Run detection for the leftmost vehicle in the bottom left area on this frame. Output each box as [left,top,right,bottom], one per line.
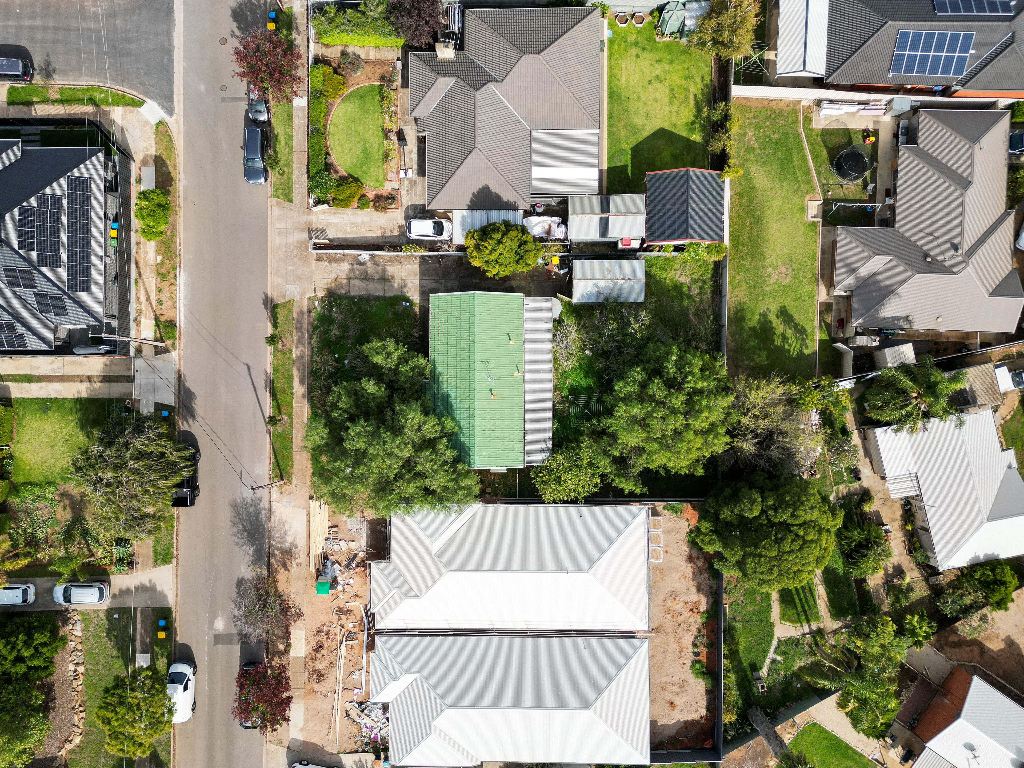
[0,579,34,607]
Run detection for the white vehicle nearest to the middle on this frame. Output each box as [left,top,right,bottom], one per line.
[404,213,452,242]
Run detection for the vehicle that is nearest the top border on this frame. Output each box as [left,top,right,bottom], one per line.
[0,51,31,84]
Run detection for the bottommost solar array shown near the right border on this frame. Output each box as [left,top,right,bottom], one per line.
[890,30,976,77]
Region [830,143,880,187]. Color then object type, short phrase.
black trampoline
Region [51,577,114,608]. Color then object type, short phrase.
white car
